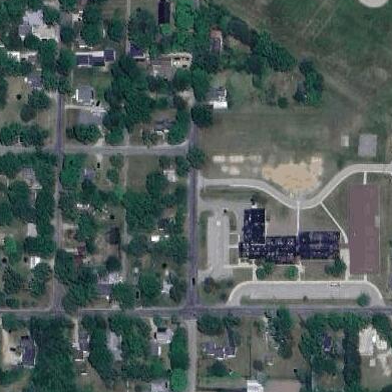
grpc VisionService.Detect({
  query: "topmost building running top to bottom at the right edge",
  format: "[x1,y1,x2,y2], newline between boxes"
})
[349,186,383,275]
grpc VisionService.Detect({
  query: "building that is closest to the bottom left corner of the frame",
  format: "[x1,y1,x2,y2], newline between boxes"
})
[22,336,36,369]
